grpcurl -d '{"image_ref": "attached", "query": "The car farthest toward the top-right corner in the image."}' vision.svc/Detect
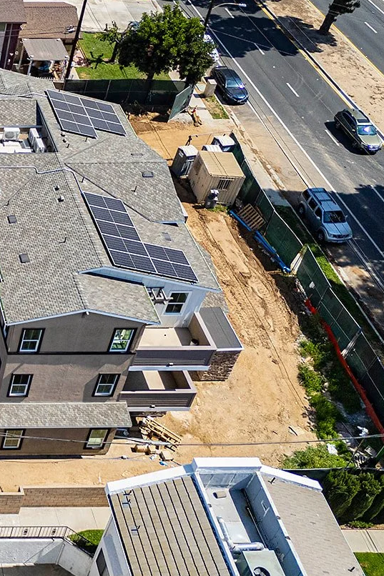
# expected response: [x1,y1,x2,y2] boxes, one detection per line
[332,113,380,155]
